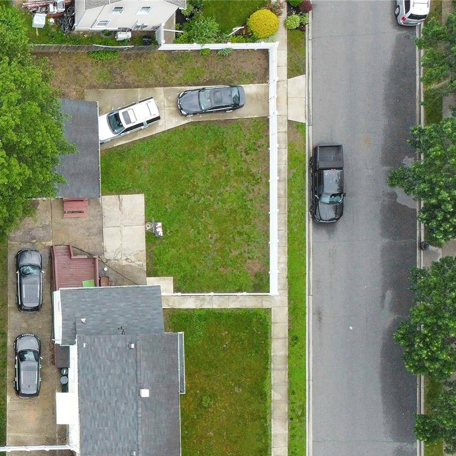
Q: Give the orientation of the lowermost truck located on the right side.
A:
vertically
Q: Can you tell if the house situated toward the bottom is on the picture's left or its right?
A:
left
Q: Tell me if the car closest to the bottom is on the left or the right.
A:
left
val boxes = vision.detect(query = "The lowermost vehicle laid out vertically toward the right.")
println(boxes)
[306,144,345,224]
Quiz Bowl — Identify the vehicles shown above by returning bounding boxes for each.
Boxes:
[173,86,242,119]
[13,334,43,399]
[14,248,45,312]
[306,144,345,224]
[101,97,161,145]
[390,0,427,31]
